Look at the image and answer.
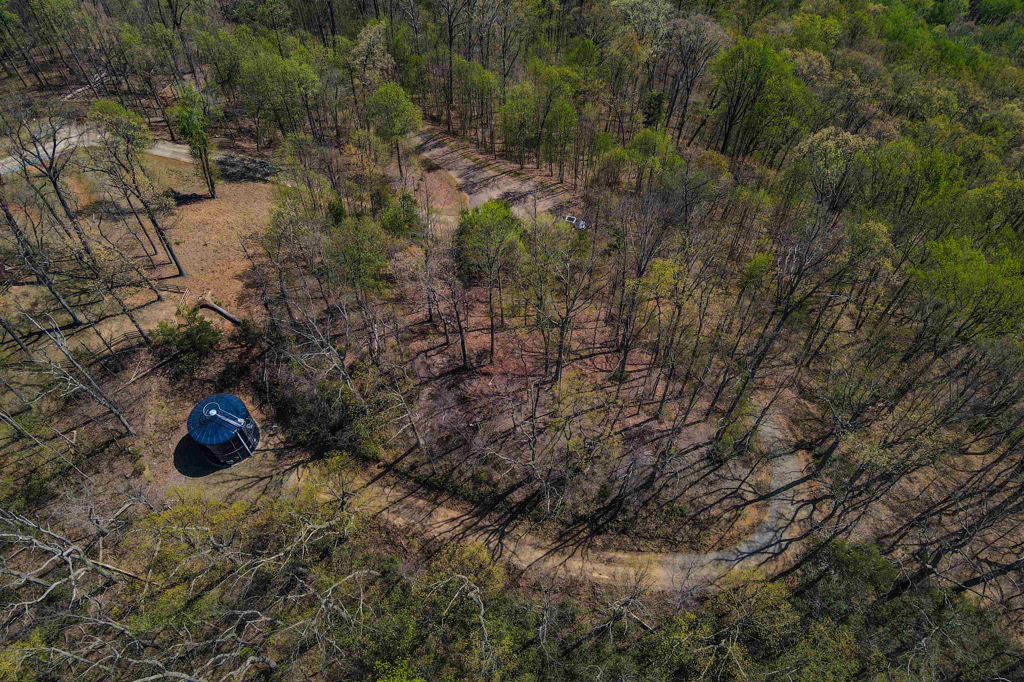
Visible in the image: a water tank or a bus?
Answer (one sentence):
I can see a water tank in this picture.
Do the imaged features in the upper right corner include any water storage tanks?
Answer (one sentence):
No, no water storage tank is visible in the upper right corner.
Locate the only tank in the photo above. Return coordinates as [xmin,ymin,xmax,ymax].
[186,393,261,467]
